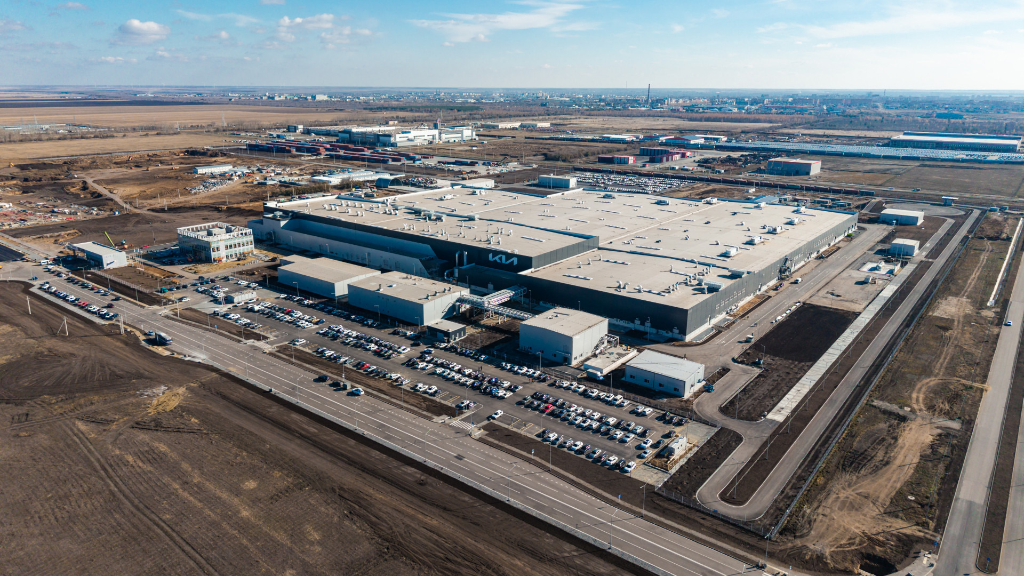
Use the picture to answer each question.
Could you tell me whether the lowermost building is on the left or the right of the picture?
right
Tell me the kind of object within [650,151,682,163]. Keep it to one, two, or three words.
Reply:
shed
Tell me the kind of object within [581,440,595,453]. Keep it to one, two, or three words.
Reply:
vehicle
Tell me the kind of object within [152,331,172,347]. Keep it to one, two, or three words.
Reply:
vehicle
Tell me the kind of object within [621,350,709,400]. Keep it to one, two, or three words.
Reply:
building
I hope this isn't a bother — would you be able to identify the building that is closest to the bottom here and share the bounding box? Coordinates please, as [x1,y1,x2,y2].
[646,432,691,472]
